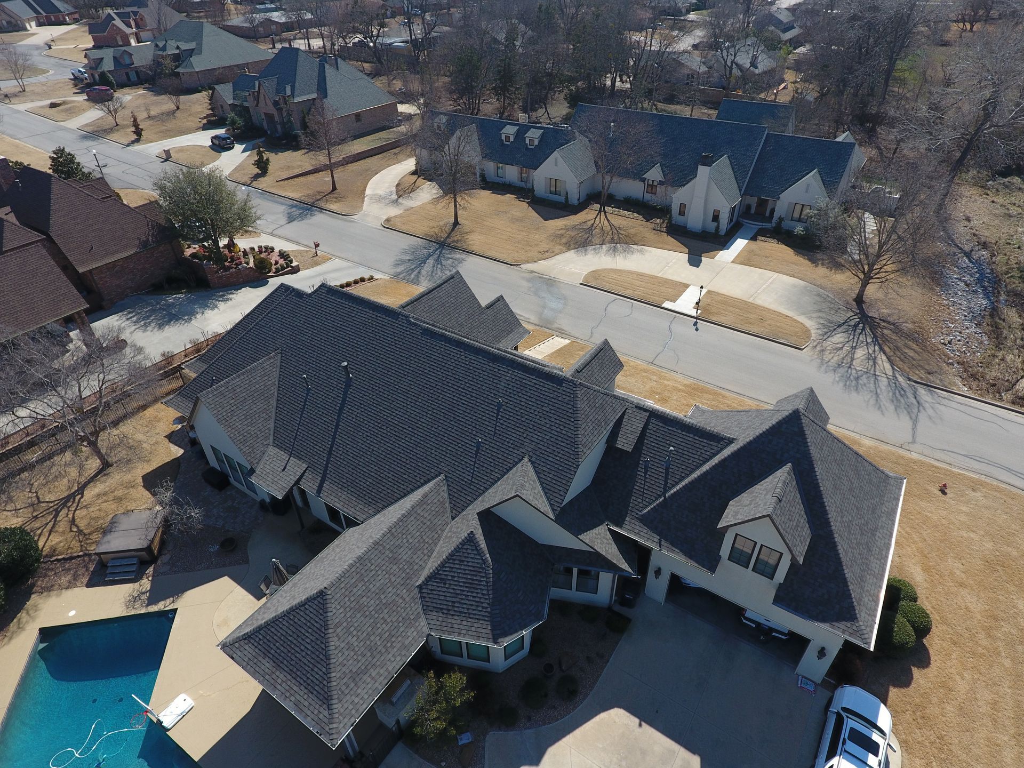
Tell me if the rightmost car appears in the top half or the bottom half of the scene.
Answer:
bottom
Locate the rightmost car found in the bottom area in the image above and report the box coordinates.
[813,683,894,768]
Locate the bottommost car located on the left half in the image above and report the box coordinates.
[213,132,238,149]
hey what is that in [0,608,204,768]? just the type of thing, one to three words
swimming pool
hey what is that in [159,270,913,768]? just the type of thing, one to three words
house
